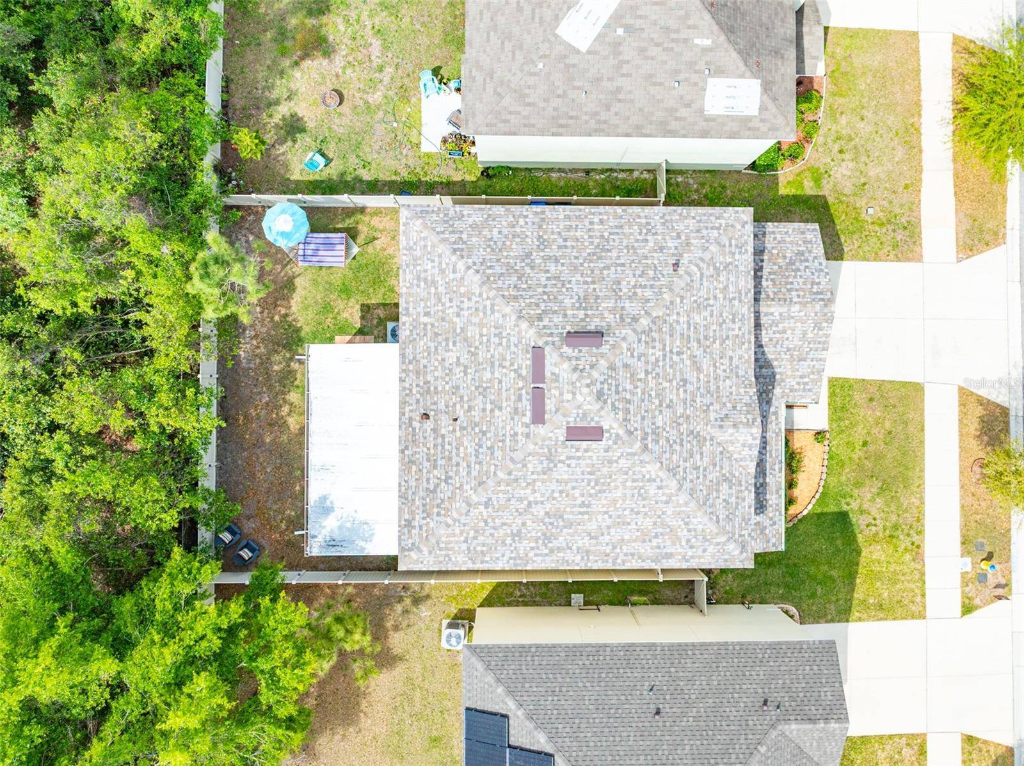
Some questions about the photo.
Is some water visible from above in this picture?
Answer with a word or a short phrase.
No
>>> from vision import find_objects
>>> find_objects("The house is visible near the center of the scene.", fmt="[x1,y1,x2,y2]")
[399,206,840,570]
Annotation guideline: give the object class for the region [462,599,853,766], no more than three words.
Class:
house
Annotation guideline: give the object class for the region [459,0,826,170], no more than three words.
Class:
house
